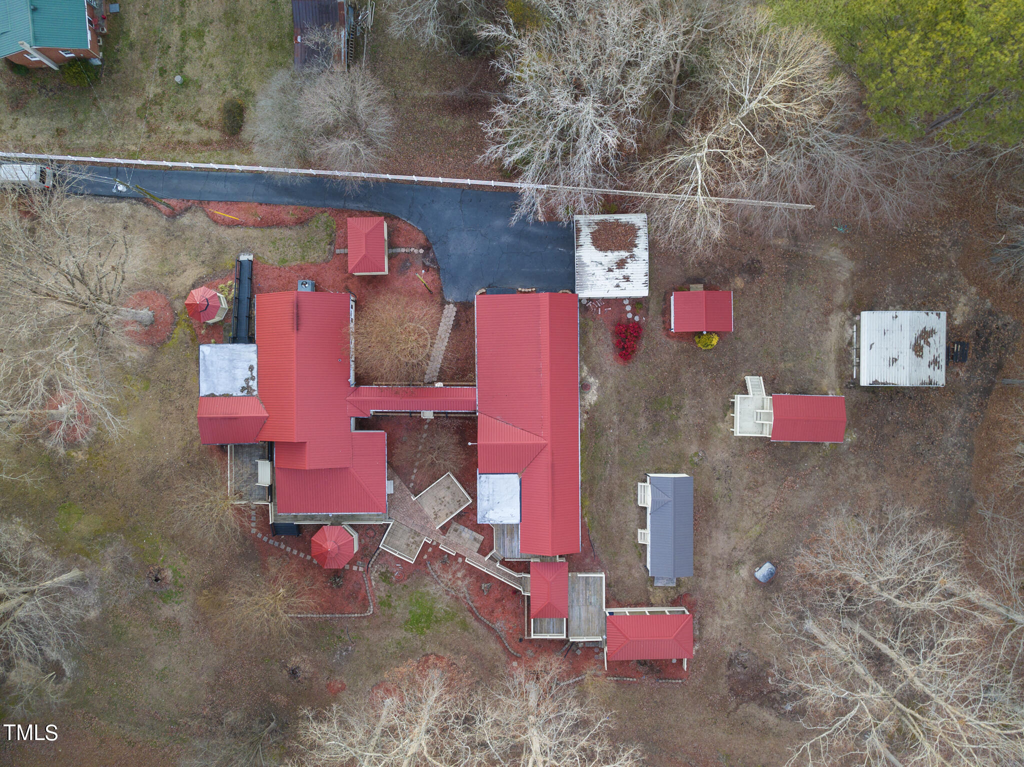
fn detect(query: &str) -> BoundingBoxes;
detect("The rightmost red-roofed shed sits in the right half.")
[730,376,847,444]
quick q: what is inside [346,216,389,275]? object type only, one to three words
building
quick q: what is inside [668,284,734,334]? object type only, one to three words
shed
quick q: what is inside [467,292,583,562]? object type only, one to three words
house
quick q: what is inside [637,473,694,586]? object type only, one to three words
shed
